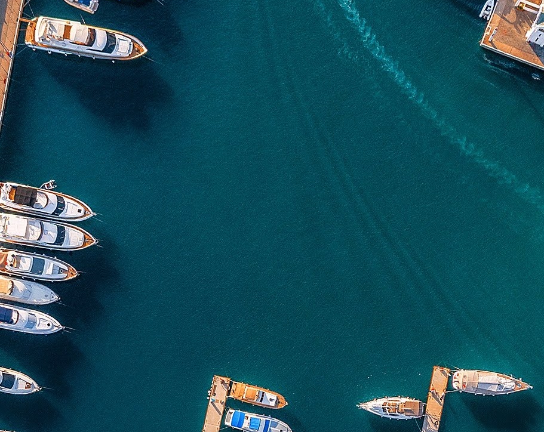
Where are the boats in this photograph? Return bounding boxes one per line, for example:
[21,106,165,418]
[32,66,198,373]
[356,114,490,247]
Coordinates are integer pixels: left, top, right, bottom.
[0,214,123,252]
[225,376,290,408]
[0,278,83,309]
[13,12,172,62]
[224,411,293,432]
[0,304,74,337]
[0,367,65,396]
[0,248,104,282]
[448,369,534,396]
[62,0,105,18]
[0,181,116,225]
[477,0,494,24]
[39,176,63,190]
[355,395,429,421]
